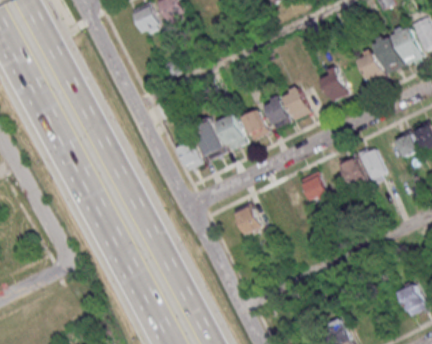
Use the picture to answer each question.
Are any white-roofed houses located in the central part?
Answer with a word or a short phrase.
Yes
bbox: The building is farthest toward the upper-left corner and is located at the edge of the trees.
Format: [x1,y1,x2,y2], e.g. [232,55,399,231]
[134,2,164,36]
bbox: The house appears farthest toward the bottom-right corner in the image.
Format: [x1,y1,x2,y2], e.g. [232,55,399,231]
[397,284,430,320]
